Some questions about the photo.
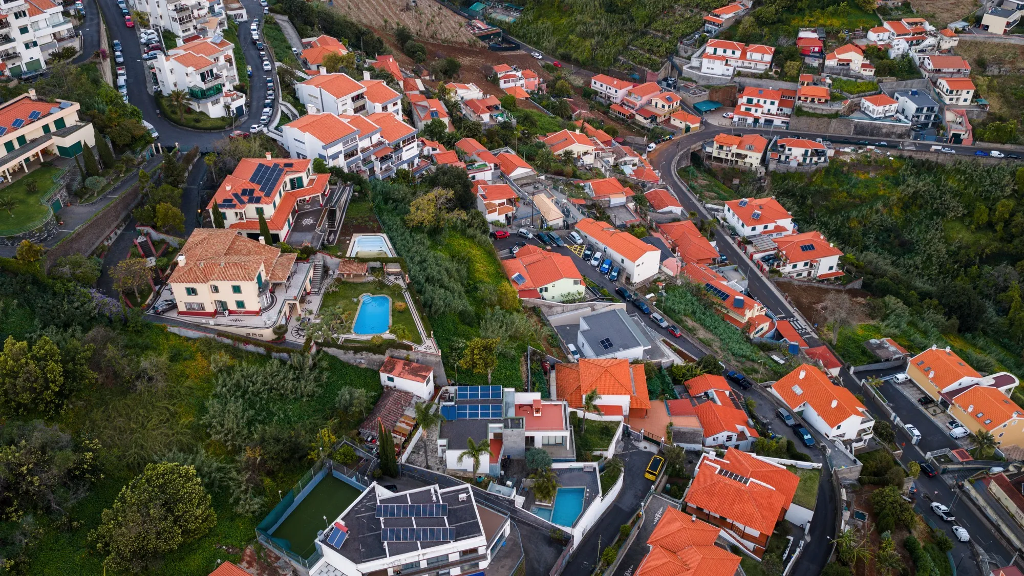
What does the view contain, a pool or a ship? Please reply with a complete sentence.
Looking from above, you can make out a pool.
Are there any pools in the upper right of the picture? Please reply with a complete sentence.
No, the scene shows no pool in the upper right of the picture.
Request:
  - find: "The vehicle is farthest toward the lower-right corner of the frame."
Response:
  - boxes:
[952,524,975,543]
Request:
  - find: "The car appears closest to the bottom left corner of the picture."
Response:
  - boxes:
[149,299,177,316]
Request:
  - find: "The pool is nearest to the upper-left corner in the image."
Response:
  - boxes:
[351,234,392,257]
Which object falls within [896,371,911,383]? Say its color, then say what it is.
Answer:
white vehicle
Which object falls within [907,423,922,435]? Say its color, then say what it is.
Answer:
white vehicle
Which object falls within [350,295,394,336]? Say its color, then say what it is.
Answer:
blue swimming pool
